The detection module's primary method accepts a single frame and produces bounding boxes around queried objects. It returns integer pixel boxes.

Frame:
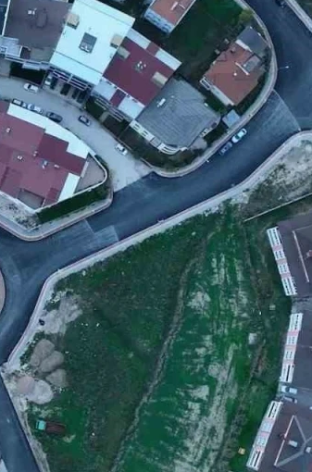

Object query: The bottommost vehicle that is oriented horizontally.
[37,420,65,433]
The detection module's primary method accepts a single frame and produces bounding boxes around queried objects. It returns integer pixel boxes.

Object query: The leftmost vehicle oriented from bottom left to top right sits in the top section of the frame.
[217,141,233,156]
